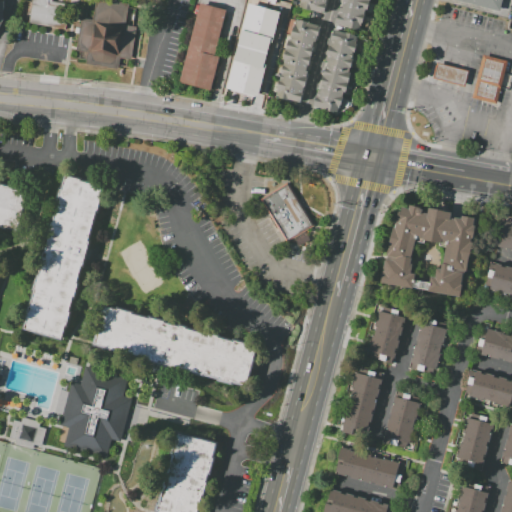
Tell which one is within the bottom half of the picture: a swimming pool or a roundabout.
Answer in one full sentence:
The one visible within the bottom half of the picture is a swimming pool.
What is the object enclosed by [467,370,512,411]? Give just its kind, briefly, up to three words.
house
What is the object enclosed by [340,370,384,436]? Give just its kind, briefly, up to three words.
house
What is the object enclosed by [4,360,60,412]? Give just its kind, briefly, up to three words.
swimming pool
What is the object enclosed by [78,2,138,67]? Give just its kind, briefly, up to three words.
building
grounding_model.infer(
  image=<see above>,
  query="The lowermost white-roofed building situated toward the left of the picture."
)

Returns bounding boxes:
[154,434,217,512]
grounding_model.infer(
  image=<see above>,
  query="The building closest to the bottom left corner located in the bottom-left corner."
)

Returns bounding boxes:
[10,418,47,449]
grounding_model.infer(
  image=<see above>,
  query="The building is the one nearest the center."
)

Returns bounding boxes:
[264,184,314,246]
